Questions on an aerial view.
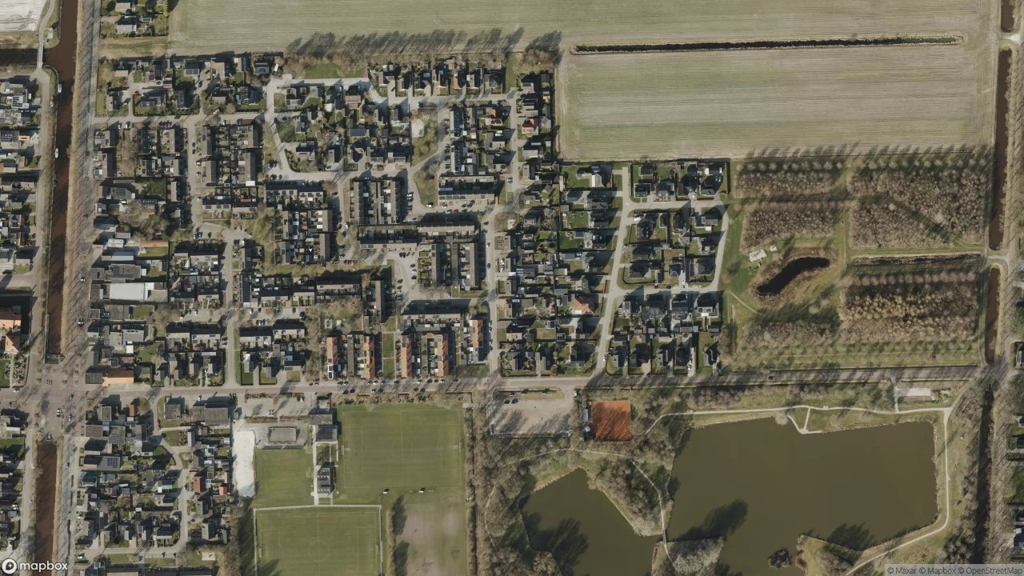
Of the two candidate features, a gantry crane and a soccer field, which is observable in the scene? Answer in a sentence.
Of the two, only a soccer field appears.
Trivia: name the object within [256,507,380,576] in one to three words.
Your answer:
soccer field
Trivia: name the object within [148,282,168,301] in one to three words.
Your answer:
house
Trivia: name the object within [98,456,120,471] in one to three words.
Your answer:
building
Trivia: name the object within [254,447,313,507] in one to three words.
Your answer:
sports field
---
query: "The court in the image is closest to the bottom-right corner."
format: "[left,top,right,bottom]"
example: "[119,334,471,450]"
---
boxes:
[592,399,631,441]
